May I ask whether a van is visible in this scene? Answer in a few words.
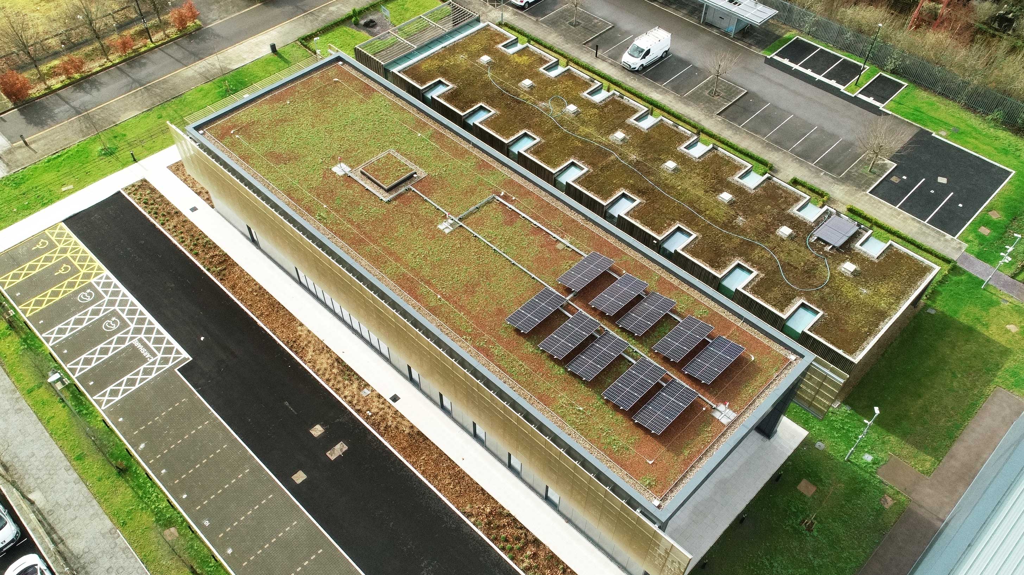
Yes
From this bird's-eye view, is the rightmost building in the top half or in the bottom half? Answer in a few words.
bottom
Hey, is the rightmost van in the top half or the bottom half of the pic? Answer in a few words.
top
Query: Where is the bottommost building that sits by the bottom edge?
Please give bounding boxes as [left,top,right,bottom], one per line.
[907,410,1024,575]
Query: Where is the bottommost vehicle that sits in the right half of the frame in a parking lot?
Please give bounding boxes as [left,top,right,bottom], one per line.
[622,24,672,70]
